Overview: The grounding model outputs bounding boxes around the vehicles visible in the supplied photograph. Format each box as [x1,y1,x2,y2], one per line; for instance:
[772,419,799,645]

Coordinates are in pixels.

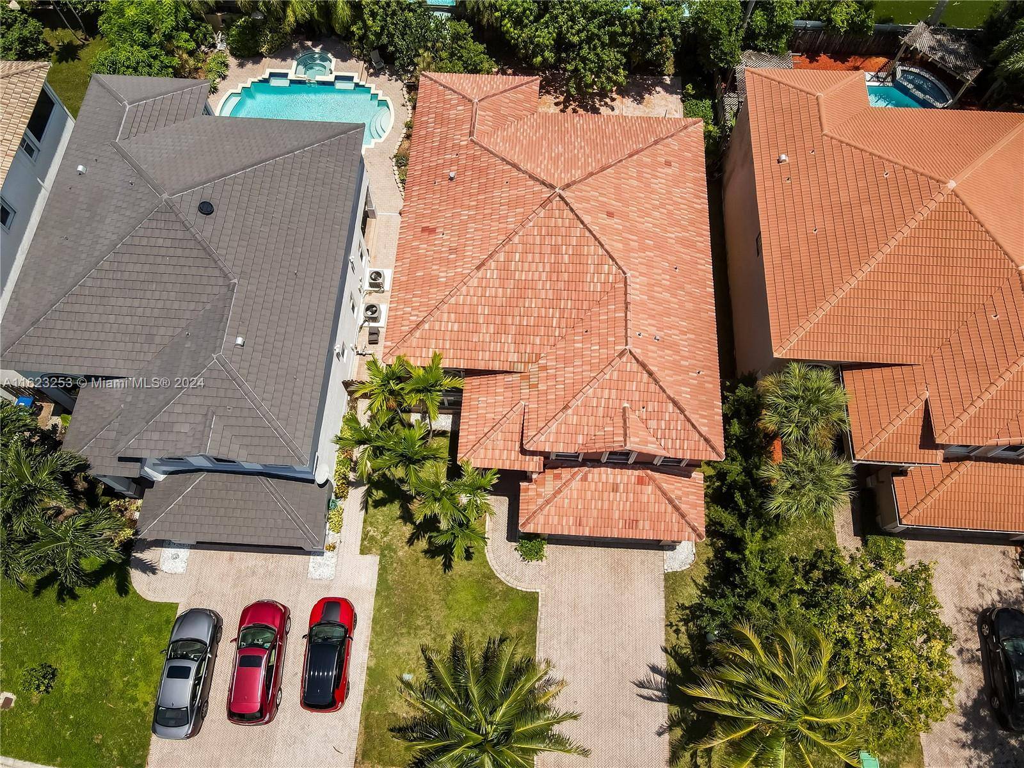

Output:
[151,606,222,740]
[299,597,357,711]
[980,603,1024,730]
[227,599,290,725]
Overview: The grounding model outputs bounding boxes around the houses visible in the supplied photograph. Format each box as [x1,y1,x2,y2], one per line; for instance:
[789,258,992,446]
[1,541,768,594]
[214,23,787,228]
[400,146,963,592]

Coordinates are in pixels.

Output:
[721,64,1024,536]
[383,67,728,545]
[0,72,370,555]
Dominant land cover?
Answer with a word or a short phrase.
buildings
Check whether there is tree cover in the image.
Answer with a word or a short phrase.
Yes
